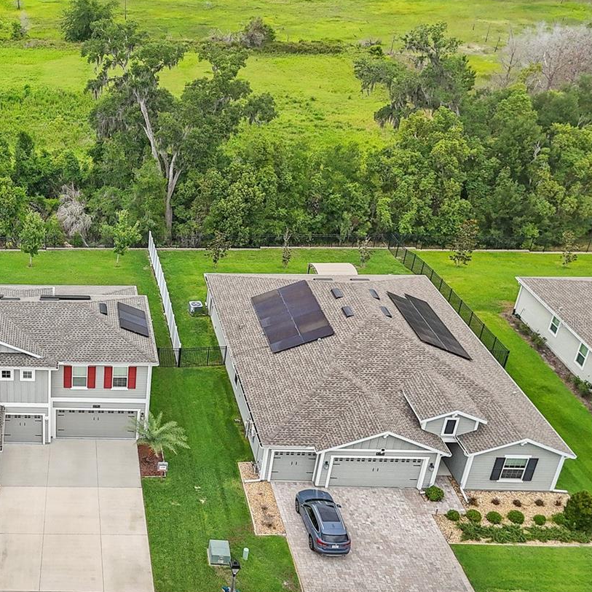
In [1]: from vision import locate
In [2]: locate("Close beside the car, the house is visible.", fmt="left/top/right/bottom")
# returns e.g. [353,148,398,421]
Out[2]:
[202,273,578,501]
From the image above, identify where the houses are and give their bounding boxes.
[202,273,578,501]
[0,282,159,462]
[510,277,592,386]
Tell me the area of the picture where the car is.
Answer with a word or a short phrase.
bottom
